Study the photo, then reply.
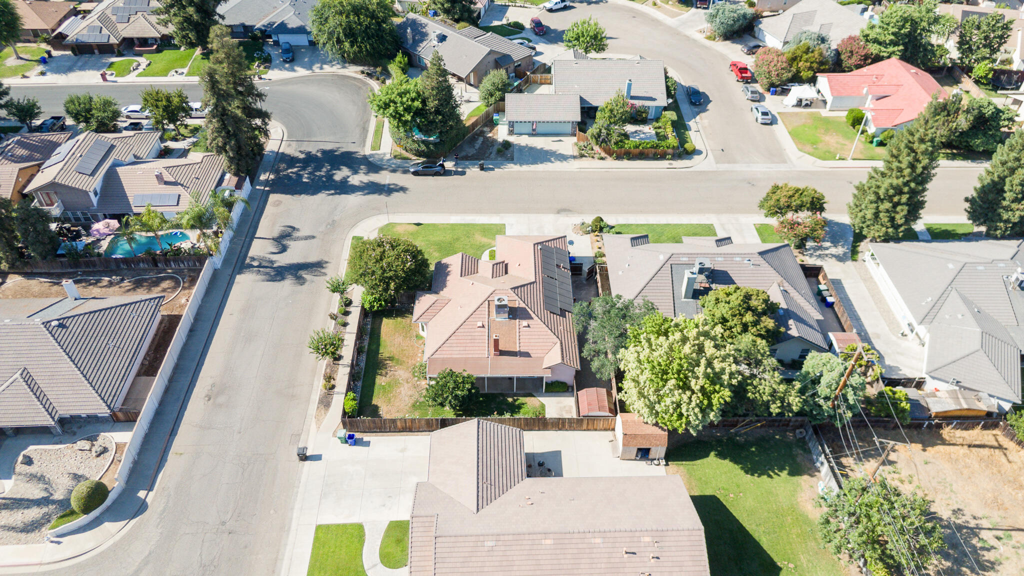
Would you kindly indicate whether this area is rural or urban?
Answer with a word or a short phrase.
urban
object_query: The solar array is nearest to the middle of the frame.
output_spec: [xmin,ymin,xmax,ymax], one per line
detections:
[542,240,576,331]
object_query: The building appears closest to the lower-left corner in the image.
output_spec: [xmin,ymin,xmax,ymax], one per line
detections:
[0,285,164,440]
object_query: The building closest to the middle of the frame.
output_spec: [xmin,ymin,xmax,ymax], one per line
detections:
[411,235,581,390]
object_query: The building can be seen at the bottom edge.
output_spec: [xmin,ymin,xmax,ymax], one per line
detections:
[406,419,707,576]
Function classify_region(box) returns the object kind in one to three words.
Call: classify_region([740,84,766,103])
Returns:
car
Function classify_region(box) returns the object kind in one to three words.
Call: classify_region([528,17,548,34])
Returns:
car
